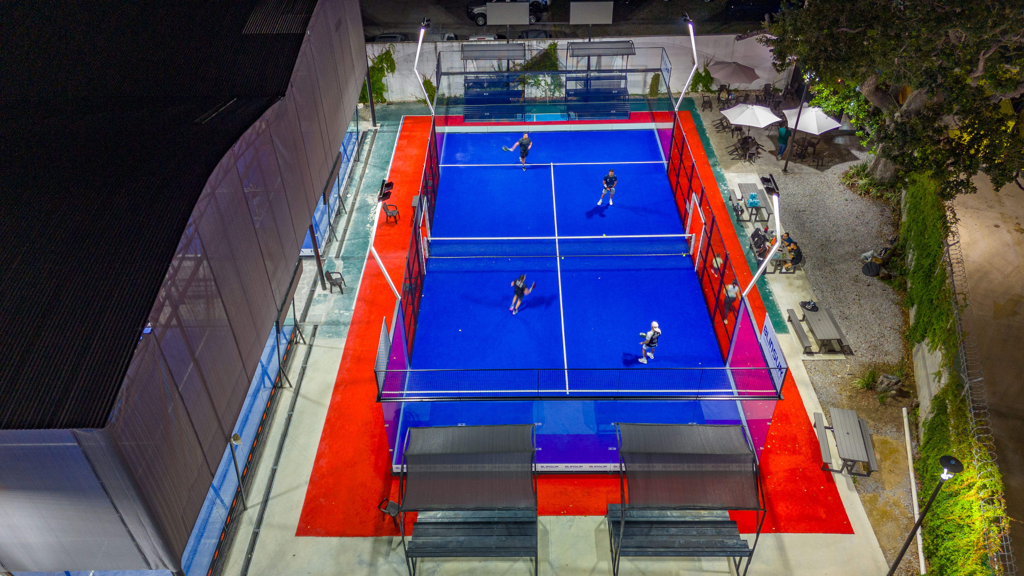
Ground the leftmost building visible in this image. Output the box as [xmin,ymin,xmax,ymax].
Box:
[0,0,376,576]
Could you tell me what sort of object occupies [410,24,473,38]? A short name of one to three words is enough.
vehicle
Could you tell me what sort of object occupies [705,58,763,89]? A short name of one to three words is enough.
umbrella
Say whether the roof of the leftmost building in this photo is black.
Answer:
Yes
